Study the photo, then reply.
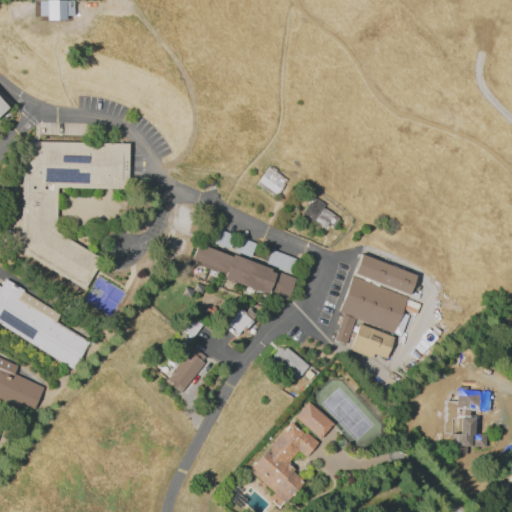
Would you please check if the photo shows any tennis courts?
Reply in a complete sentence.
Yes, a tennis court can be made out from above.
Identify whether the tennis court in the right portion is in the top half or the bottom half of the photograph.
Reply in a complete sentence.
Seen from above, the tennis court in the right portion lies in the bottom half of the view.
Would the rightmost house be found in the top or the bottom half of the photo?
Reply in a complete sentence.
Seen from above, the rightmost house lies in the bottom half of the view.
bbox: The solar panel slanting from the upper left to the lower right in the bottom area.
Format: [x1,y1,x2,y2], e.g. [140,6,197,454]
[0,311,36,338]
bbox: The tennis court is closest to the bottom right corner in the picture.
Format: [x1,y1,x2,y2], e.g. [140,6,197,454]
[317,380,381,446]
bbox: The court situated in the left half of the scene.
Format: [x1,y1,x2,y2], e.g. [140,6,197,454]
[84,276,126,312]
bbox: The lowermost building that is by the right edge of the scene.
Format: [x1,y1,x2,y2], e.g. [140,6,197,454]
[454,388,492,456]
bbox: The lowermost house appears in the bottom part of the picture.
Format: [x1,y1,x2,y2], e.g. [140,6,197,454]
[254,426,320,507]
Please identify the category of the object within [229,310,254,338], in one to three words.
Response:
house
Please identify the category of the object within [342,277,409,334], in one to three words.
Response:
building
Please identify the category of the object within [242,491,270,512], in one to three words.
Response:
swimming pool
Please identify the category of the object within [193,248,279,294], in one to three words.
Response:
house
